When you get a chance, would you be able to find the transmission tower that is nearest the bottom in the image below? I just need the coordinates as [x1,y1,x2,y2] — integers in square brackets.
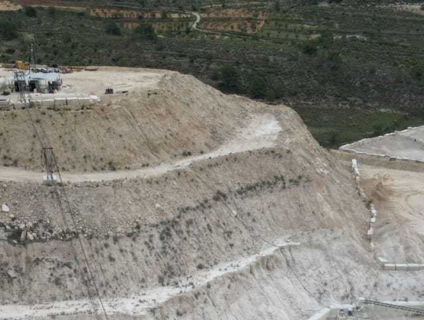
[39,133,57,179]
